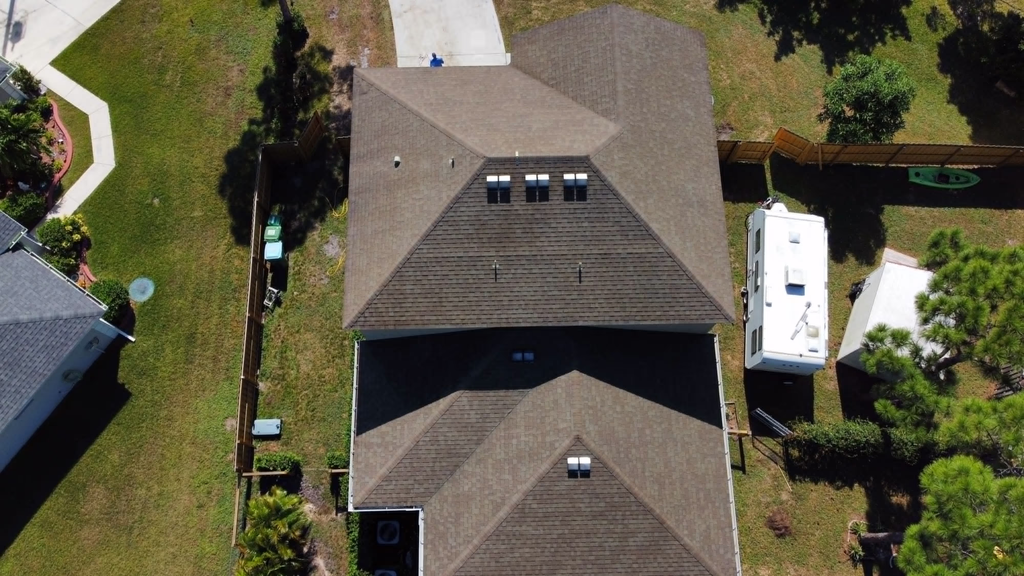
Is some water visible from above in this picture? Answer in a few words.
No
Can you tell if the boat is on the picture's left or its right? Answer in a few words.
right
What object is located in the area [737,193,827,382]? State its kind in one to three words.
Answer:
trailer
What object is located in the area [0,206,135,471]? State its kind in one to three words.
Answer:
house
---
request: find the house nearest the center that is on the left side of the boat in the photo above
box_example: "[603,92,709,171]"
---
[339,5,744,576]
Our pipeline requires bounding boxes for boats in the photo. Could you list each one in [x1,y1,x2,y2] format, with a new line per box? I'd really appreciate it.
[906,167,983,188]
